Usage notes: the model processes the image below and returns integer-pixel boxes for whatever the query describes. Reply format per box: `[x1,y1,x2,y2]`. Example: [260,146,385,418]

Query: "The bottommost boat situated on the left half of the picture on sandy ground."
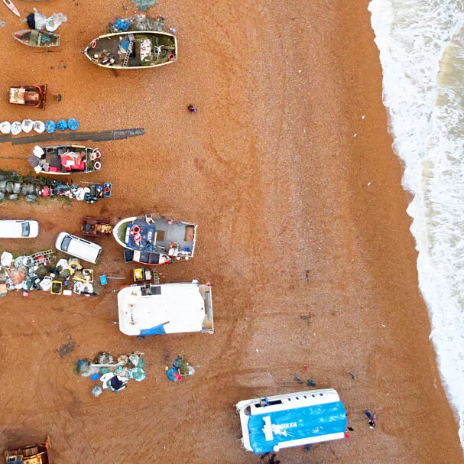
[114,279,215,337]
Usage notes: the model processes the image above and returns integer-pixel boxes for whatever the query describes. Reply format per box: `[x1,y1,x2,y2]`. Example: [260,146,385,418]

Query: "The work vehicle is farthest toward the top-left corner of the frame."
[8,83,52,110]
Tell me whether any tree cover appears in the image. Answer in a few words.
No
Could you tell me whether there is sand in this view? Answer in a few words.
Yes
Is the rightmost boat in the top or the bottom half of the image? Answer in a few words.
bottom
